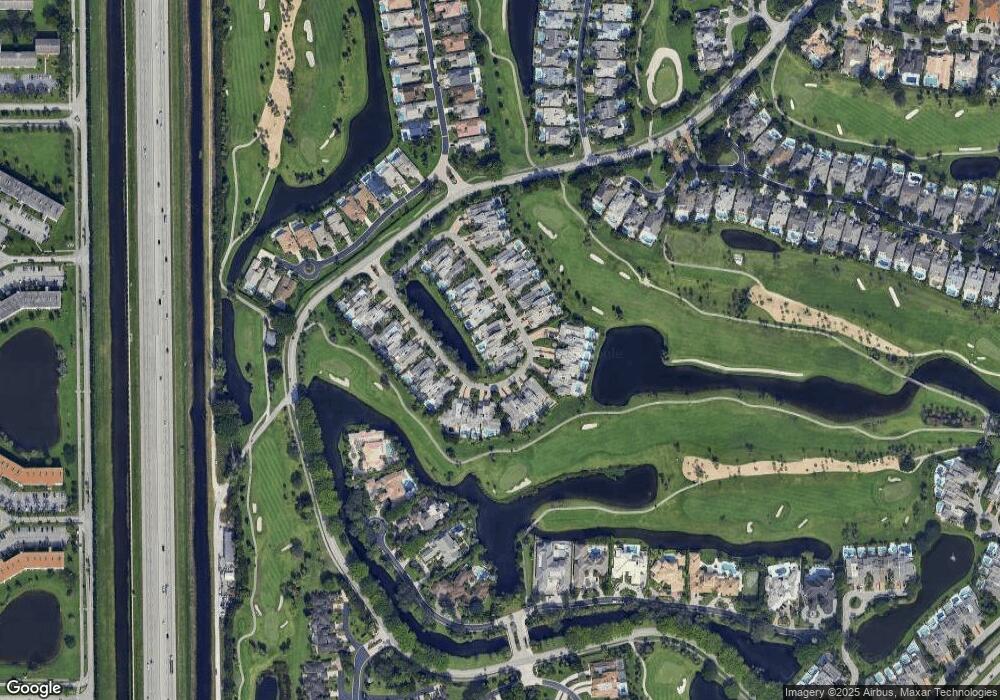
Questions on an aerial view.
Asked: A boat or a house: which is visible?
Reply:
house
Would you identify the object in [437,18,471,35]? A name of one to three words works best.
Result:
house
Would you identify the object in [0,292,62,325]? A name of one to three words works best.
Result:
building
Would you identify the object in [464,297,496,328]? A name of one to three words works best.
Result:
house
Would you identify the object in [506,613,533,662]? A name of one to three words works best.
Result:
bridge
